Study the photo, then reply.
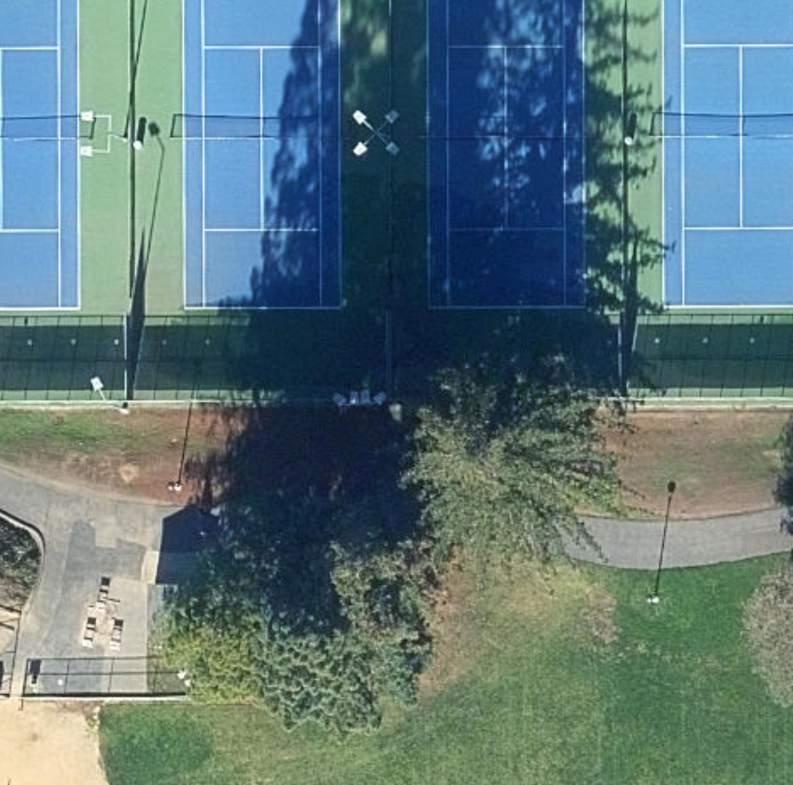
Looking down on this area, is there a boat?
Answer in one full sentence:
No, no boat is visible in the view.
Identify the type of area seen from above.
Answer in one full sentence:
What you see here is a sports ground.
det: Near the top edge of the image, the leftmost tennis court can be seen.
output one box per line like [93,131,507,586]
[0,0,80,310]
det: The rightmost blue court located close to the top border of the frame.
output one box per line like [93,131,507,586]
[662,0,793,307]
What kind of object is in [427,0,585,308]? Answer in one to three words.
tennis court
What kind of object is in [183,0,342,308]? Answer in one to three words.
tennis court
